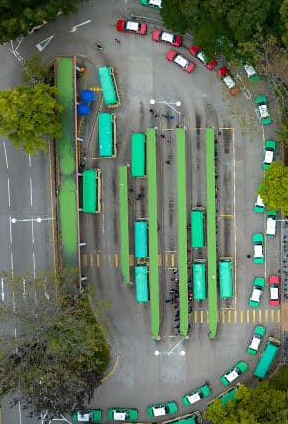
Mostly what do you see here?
paved ground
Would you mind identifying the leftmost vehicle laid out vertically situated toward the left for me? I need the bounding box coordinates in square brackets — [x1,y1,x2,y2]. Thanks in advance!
[82,166,102,213]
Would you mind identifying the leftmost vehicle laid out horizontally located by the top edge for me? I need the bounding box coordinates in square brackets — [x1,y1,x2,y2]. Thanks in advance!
[118,20,148,36]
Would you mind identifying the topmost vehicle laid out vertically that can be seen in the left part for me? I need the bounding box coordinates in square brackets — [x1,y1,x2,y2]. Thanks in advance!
[96,63,122,109]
